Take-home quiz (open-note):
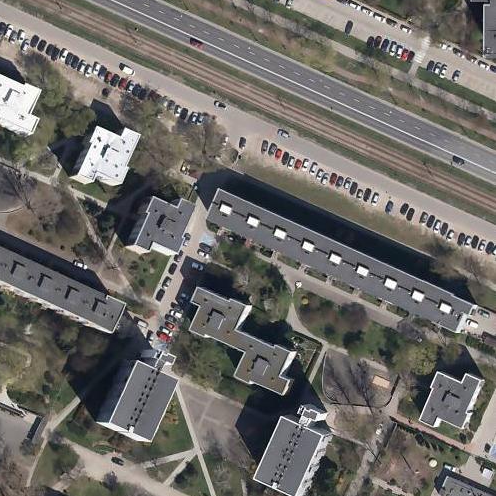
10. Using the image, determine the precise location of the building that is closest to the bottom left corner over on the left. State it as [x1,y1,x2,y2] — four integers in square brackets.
[103,361,178,441]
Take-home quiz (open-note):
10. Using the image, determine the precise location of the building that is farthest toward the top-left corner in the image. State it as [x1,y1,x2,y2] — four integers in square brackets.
[0,75,42,137]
